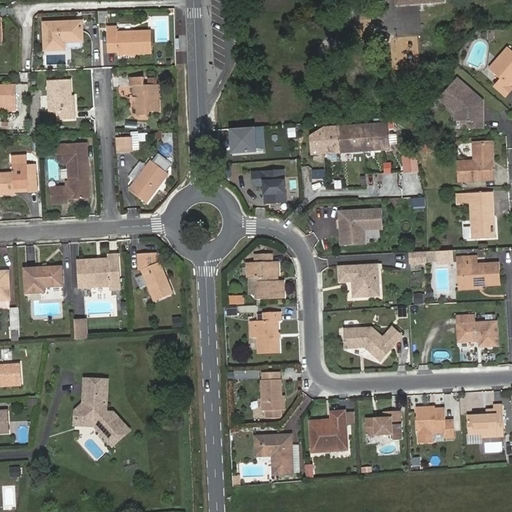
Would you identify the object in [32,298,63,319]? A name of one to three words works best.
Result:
swimming pool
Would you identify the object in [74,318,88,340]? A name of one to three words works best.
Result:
building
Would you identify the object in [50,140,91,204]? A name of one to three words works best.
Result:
house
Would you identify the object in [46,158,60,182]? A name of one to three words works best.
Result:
swimming pool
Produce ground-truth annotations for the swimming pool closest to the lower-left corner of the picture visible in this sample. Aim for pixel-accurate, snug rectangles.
[2,486,14,510]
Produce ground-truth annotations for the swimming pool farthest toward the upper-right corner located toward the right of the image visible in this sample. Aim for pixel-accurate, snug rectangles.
[464,40,489,68]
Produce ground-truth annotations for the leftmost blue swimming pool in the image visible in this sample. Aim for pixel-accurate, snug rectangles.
[14,424,28,444]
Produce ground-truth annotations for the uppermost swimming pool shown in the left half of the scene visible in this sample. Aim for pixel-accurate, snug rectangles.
[154,18,168,41]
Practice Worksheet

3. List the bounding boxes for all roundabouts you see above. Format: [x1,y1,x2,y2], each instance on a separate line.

[164,183,242,261]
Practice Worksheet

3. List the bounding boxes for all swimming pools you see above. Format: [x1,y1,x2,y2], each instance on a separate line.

[464,40,489,68]
[378,444,396,454]
[241,464,264,477]
[484,442,503,454]
[46,158,60,182]
[84,438,103,457]
[289,179,297,190]
[429,454,441,466]
[434,266,450,292]
[14,424,28,444]
[32,298,63,319]
[86,300,112,314]
[46,54,65,64]
[154,18,168,41]
[2,486,14,510]
[430,348,452,362]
